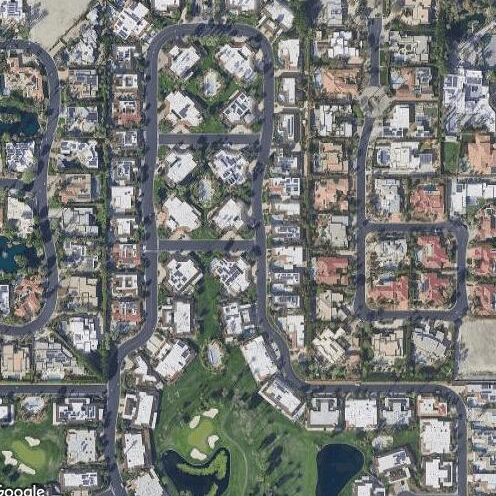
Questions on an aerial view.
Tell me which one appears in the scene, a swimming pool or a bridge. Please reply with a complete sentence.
This aerial view contains a swimming pool.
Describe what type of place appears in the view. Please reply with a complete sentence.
The picture captures a residential area.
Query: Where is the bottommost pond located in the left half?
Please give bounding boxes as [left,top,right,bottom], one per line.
[160,447,230,496]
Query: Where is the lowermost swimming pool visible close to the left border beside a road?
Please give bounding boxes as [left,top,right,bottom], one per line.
[21,393,47,416]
